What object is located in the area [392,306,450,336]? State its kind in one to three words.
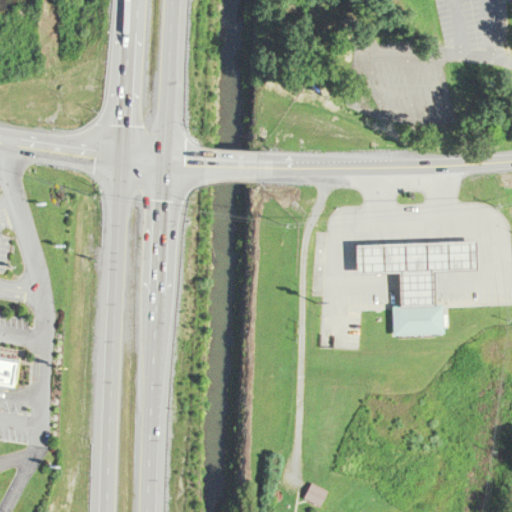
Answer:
building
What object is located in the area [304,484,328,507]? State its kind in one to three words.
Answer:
house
